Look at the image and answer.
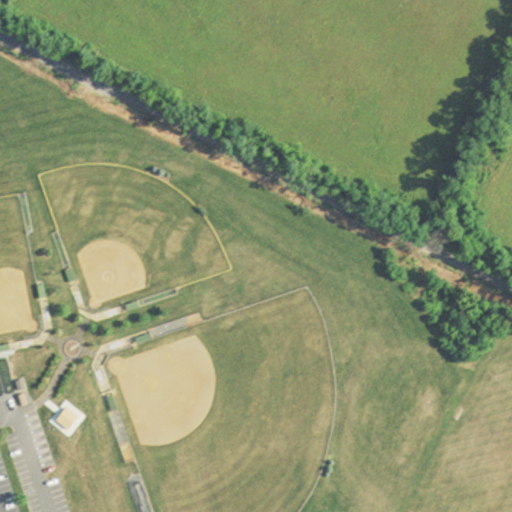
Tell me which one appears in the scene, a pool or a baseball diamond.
baseball diamond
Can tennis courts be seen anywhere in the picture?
No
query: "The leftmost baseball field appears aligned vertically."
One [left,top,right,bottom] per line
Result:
[0,194,43,345]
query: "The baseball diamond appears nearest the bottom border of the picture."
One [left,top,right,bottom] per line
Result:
[106,288,335,512]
